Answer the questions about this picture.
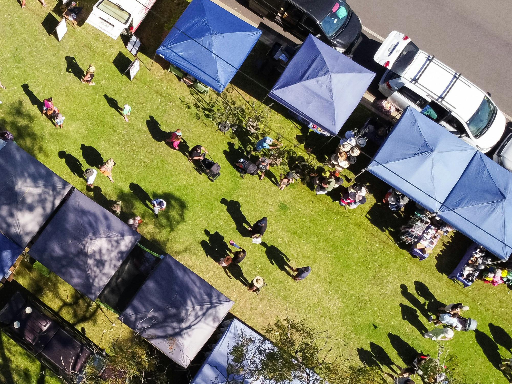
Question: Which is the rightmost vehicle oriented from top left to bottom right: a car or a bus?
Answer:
car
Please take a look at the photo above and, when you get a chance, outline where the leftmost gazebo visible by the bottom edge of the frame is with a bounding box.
[114,254,234,369]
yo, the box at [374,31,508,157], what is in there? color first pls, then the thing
white car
